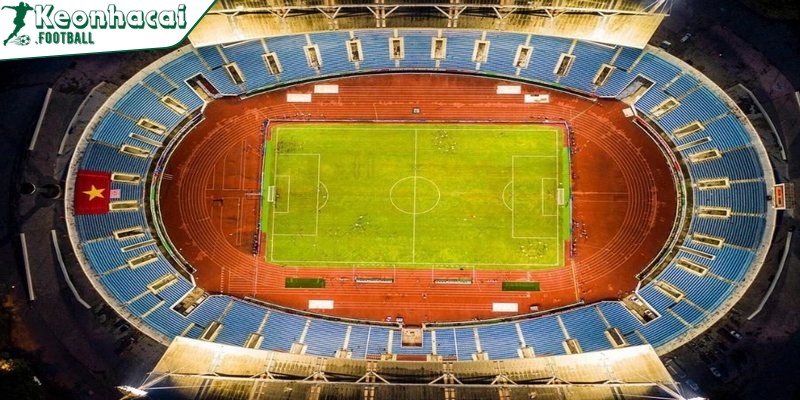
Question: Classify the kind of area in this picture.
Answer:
sports ground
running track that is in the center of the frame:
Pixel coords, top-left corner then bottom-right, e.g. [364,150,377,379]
[159,80,679,321]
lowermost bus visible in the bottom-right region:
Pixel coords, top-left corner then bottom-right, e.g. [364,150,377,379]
[683,373,709,400]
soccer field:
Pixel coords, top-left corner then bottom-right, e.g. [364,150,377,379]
[261,123,571,270]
